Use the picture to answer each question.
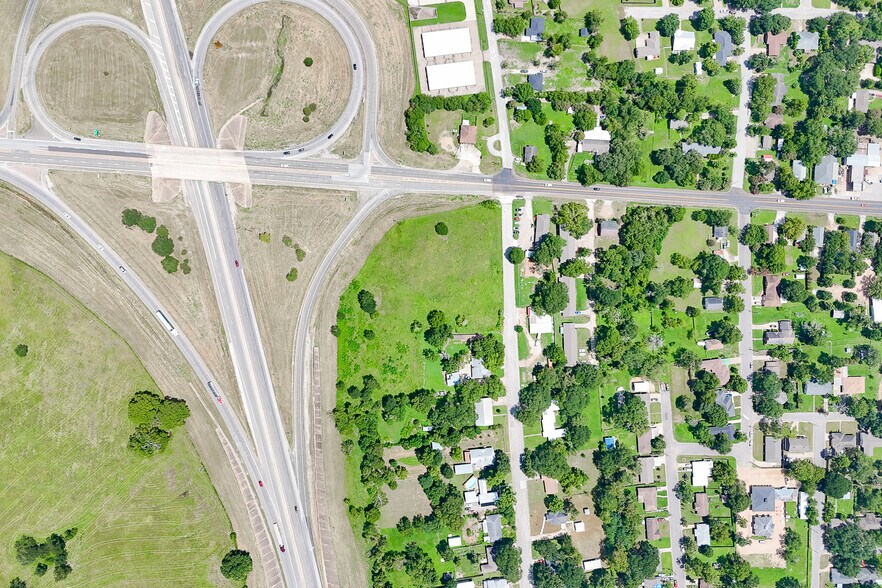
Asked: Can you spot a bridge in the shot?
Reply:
Yes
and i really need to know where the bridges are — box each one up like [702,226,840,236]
[145,144,250,183]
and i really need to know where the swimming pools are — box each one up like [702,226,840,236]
[606,438,616,449]
[458,471,482,494]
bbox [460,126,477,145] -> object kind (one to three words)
building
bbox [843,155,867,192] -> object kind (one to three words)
building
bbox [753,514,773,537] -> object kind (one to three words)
house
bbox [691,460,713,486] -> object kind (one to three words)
house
